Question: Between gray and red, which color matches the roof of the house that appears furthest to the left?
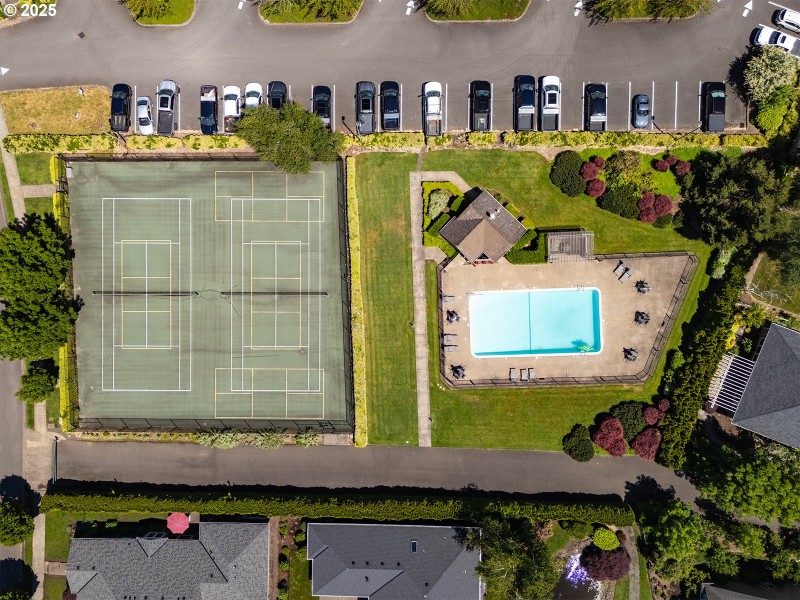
gray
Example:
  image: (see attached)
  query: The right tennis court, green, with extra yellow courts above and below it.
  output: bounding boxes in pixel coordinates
[197,162,352,427]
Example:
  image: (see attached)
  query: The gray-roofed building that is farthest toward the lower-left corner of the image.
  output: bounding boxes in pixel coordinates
[64,517,270,600]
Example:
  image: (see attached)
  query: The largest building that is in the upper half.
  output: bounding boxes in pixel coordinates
[442,190,527,265]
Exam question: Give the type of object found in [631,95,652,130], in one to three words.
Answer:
car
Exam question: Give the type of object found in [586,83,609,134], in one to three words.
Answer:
truck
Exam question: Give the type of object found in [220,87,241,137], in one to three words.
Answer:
truck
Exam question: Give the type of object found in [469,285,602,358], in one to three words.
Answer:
swimming pool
